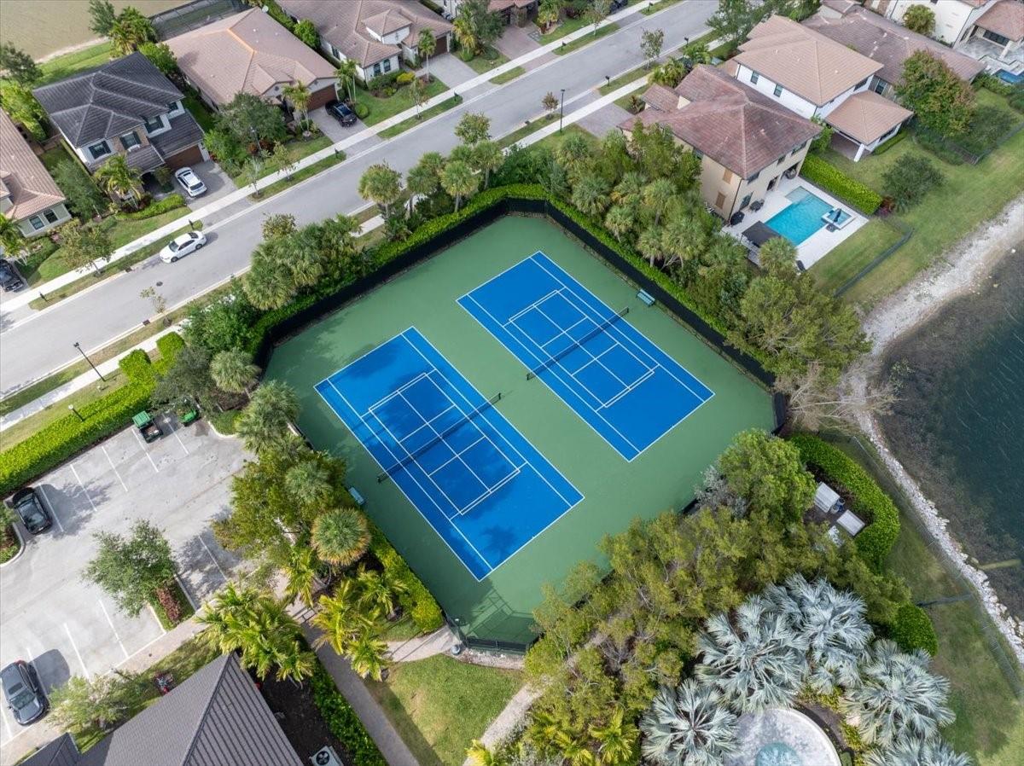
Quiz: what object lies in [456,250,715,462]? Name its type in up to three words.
tennis court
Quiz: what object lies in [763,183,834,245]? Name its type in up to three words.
swimming pool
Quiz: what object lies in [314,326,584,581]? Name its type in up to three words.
tennis court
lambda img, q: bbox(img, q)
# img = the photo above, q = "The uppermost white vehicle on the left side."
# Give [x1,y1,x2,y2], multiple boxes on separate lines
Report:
[172,168,201,195]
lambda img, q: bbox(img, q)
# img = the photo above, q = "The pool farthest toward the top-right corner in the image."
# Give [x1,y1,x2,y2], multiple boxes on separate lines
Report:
[988,63,1024,90]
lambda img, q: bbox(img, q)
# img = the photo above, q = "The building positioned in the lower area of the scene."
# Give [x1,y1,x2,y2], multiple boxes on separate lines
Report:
[10,650,300,766]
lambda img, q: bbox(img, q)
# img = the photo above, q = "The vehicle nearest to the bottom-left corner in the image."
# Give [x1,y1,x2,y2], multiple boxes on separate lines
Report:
[0,663,50,735]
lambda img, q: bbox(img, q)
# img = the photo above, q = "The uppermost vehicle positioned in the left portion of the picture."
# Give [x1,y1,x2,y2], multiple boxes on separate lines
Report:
[323,98,355,126]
